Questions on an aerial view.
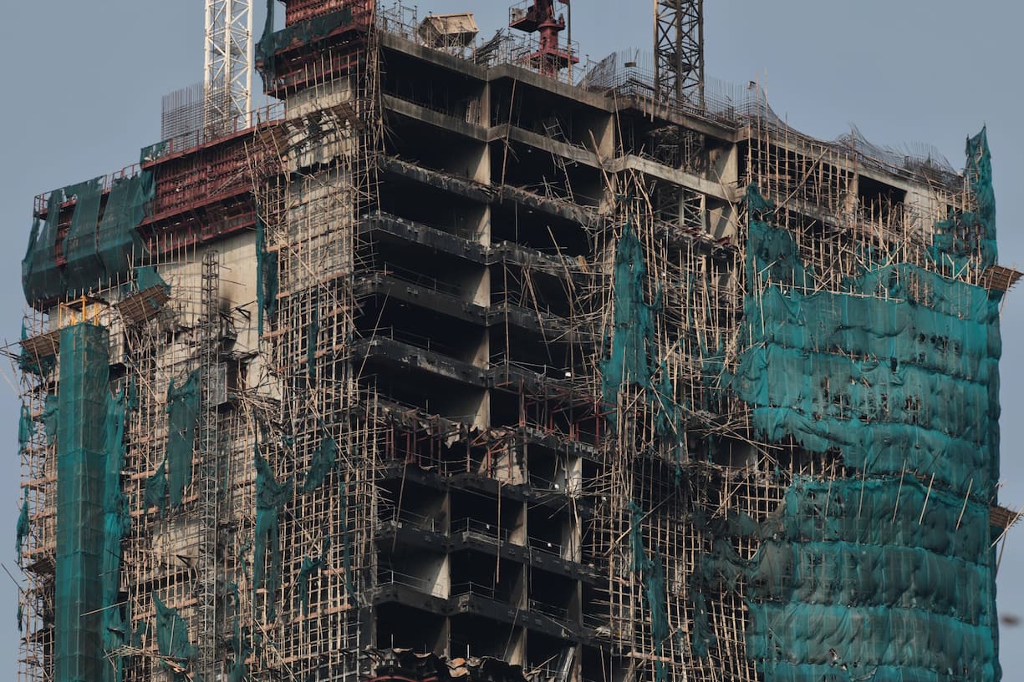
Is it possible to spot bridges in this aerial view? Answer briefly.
No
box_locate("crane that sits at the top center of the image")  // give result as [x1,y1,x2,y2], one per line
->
[510,0,580,81]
